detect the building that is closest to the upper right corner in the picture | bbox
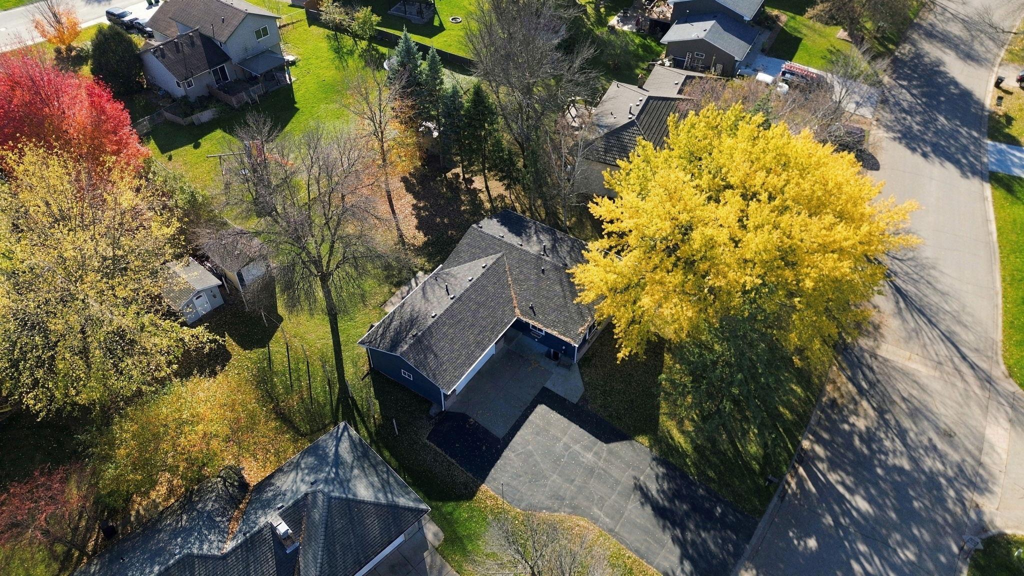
[641,0,763,75]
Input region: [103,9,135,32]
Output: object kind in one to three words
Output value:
car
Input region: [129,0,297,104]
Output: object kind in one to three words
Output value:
house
